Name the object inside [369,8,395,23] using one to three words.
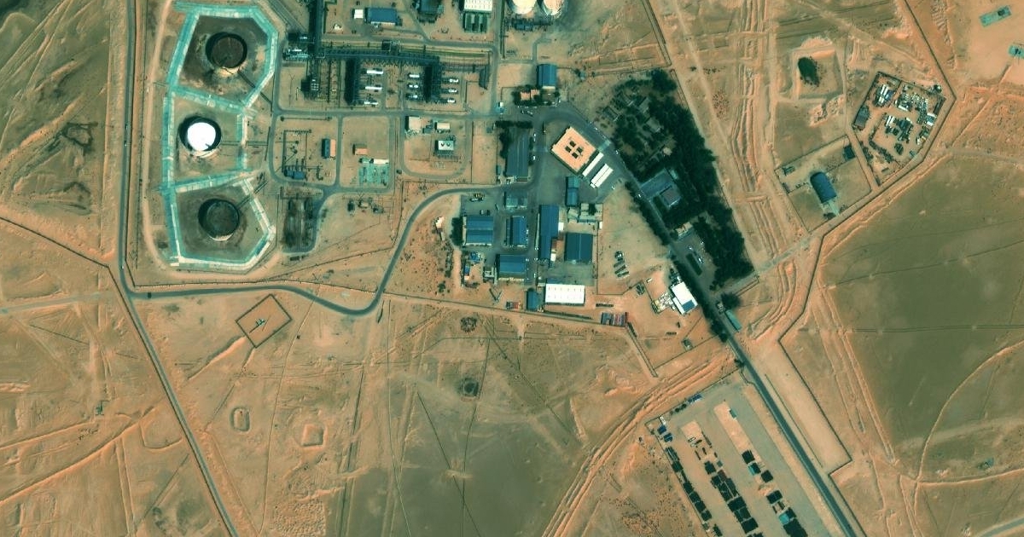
building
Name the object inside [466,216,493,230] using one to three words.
building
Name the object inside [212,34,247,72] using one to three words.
storage tank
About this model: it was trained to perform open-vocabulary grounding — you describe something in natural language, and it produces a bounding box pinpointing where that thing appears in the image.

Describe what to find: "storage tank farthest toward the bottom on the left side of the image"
[204,199,240,237]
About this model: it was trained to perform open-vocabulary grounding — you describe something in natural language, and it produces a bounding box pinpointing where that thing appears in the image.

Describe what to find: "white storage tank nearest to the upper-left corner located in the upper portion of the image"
[185,117,221,155]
